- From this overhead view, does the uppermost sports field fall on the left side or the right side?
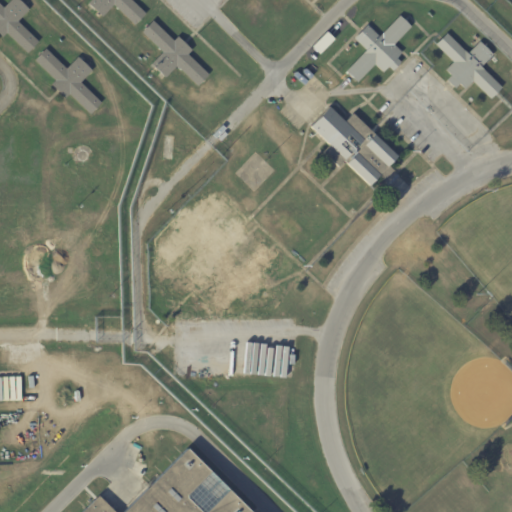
right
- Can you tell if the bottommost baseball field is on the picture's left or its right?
right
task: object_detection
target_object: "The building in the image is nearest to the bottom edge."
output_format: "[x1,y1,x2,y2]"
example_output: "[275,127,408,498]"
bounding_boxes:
[132,447,258,512]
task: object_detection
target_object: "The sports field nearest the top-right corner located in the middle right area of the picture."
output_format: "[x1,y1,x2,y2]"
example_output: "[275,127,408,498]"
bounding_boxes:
[438,185,512,316]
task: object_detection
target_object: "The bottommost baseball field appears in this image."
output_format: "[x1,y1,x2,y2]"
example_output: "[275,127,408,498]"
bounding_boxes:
[346,268,512,512]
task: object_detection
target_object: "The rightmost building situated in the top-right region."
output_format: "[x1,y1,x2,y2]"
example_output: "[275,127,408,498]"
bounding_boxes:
[436,32,502,99]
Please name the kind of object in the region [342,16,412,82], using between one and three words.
building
